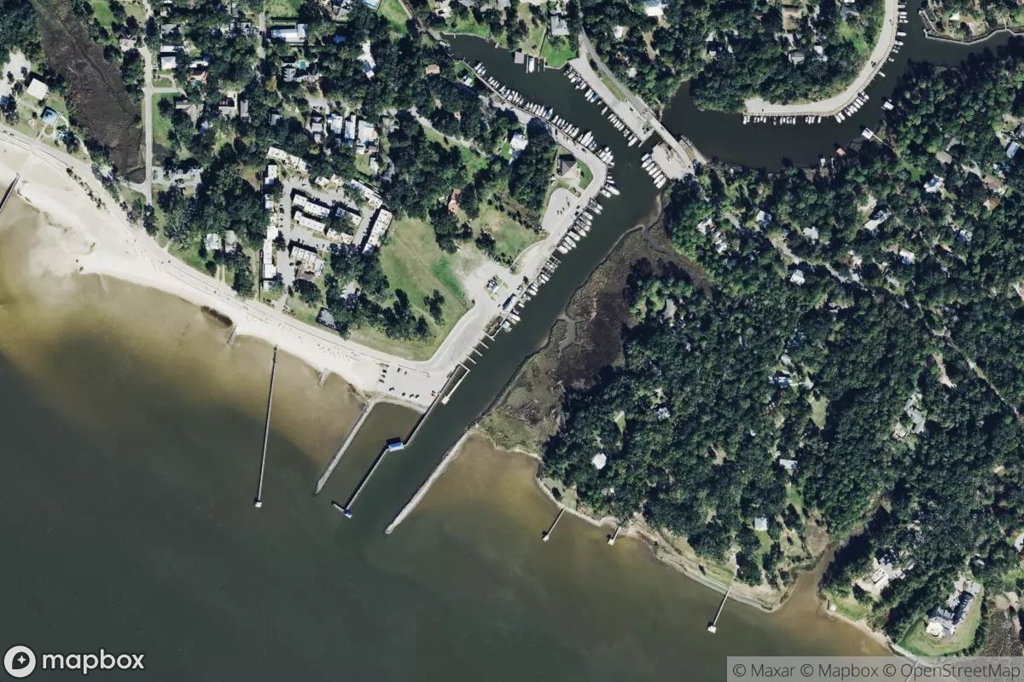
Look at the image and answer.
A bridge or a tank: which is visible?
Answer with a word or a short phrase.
bridge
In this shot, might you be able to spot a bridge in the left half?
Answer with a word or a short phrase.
No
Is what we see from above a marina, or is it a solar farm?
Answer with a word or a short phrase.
marina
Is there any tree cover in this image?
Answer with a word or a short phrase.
Yes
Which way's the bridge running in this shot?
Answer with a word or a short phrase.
on a diagonal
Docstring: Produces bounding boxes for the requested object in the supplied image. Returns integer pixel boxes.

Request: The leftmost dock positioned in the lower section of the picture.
[254,345,276,508]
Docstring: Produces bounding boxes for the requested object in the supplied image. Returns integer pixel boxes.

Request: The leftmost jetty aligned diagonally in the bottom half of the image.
[315,400,377,492]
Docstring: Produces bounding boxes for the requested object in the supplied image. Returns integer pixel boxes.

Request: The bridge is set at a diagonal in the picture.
[644,106,693,162]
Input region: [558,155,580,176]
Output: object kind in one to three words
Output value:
building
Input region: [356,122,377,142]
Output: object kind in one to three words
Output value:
house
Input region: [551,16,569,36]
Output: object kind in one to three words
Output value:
house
